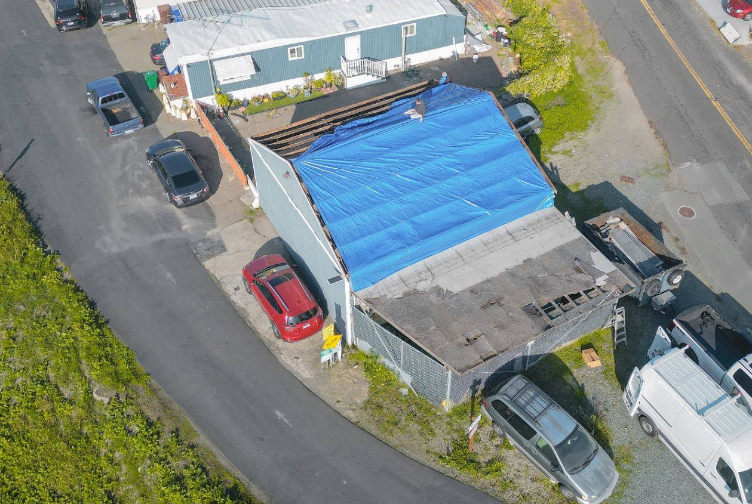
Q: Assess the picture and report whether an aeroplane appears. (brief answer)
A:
No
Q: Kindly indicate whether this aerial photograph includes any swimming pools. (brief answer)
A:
No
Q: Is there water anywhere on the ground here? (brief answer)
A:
No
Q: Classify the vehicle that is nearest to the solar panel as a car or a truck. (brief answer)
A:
car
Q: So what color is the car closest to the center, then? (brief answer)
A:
red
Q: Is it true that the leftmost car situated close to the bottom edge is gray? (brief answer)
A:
Yes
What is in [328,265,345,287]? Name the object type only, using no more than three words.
solar panel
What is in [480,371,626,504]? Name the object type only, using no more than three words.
car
